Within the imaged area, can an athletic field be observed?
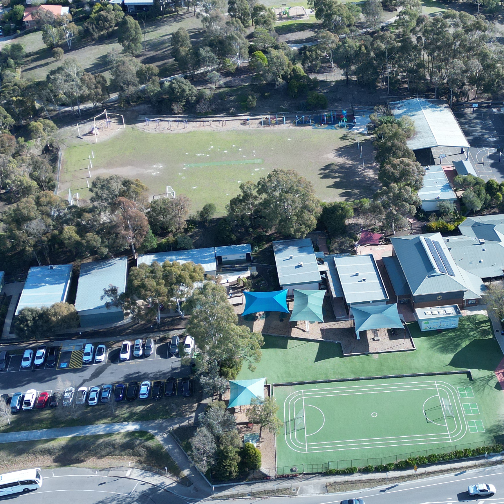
Yes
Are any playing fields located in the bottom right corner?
Yes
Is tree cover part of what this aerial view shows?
Yes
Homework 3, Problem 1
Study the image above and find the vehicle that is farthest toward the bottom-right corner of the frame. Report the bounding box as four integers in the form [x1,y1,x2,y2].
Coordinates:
[466,482,497,497]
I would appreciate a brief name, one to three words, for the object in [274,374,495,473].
sports field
